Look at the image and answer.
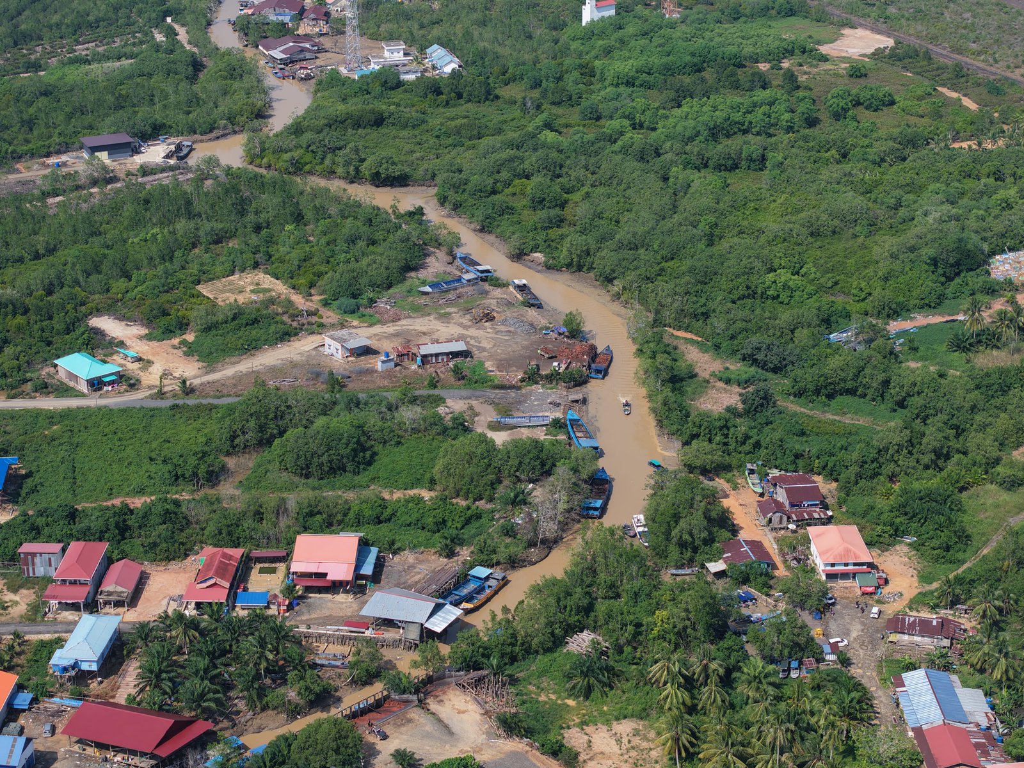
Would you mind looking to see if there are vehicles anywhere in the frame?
Yes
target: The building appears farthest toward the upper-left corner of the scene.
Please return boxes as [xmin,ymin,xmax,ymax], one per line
[85,131,145,159]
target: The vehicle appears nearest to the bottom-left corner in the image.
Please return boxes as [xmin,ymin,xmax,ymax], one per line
[40,721,56,739]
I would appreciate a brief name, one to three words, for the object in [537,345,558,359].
vehicle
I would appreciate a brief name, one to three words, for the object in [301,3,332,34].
house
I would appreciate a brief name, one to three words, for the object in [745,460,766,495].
vessel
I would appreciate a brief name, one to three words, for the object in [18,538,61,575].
shed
